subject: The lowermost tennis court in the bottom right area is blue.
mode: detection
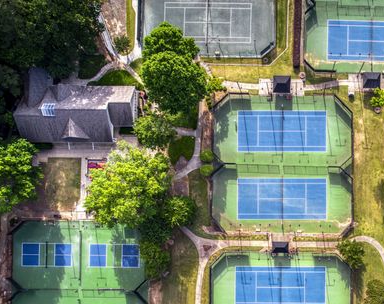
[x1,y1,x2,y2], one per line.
[211,253,351,304]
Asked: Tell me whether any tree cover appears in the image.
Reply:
Yes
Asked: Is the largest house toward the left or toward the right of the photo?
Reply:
left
